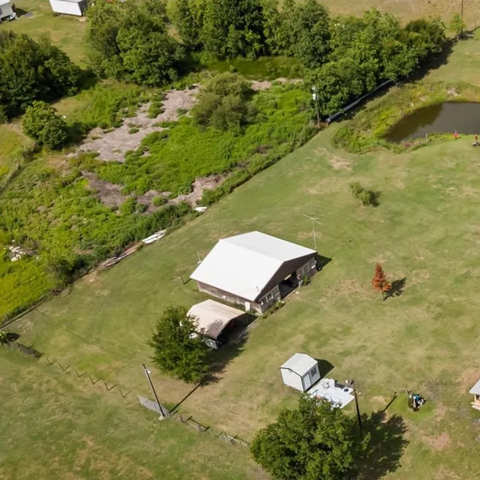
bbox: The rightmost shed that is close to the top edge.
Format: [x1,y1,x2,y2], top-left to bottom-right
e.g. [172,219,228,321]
[54,1,95,24]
